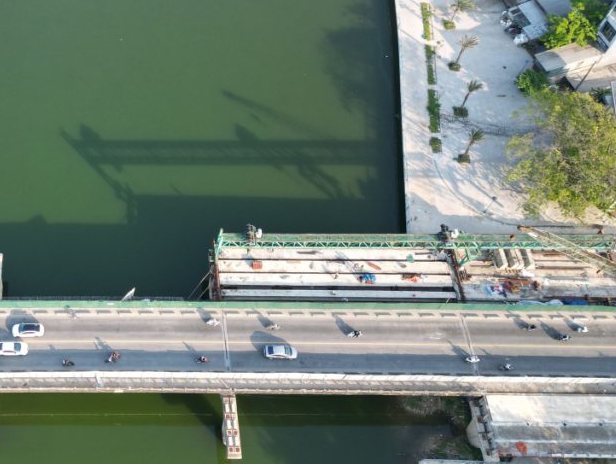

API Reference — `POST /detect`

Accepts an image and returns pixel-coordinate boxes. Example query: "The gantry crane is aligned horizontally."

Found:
[190,222,615,303]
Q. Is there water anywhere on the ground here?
Yes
